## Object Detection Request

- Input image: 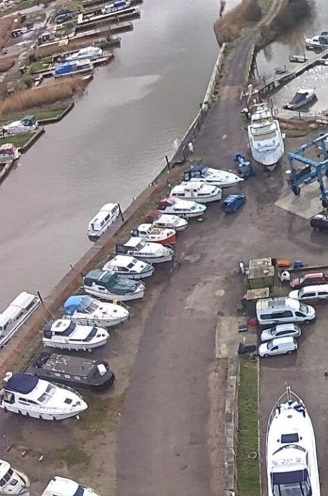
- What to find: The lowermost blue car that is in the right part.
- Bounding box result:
[222,193,249,213]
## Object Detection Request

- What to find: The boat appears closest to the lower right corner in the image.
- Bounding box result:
[266,378,328,496]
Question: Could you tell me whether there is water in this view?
Yes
